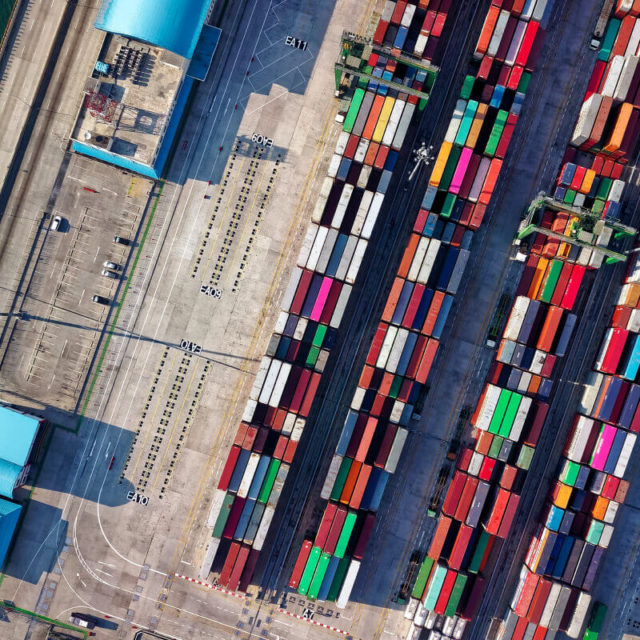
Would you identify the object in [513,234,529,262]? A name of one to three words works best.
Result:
vehicle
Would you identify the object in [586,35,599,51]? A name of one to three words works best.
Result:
vehicle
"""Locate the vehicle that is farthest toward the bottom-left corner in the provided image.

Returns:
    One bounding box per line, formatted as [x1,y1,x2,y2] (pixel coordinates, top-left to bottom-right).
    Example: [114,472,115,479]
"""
[68,612,101,634]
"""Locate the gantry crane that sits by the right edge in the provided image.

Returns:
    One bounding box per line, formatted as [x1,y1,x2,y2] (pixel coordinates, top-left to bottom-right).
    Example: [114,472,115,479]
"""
[512,186,640,272]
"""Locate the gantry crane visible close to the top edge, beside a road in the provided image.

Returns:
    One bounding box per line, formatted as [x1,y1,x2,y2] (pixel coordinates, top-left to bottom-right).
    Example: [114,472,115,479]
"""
[329,26,445,127]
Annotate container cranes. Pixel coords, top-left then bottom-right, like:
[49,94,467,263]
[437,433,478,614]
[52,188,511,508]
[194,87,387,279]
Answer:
[512,186,640,272]
[329,26,445,127]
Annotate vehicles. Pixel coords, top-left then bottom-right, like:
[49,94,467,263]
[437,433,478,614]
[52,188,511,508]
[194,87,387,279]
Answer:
[90,294,106,305]
[586,35,599,51]
[51,216,62,232]
[101,268,118,278]
[335,113,346,125]
[425,464,451,517]
[445,408,471,460]
[412,369,436,421]
[103,261,119,271]
[396,551,421,604]
[68,612,101,634]
[513,234,529,262]
[112,235,128,245]
[481,296,506,349]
